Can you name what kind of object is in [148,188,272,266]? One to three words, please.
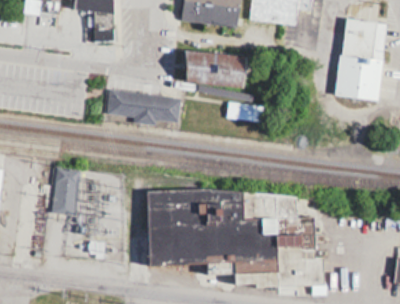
building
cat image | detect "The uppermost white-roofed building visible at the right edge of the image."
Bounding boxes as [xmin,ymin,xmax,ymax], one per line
[342,18,387,59]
